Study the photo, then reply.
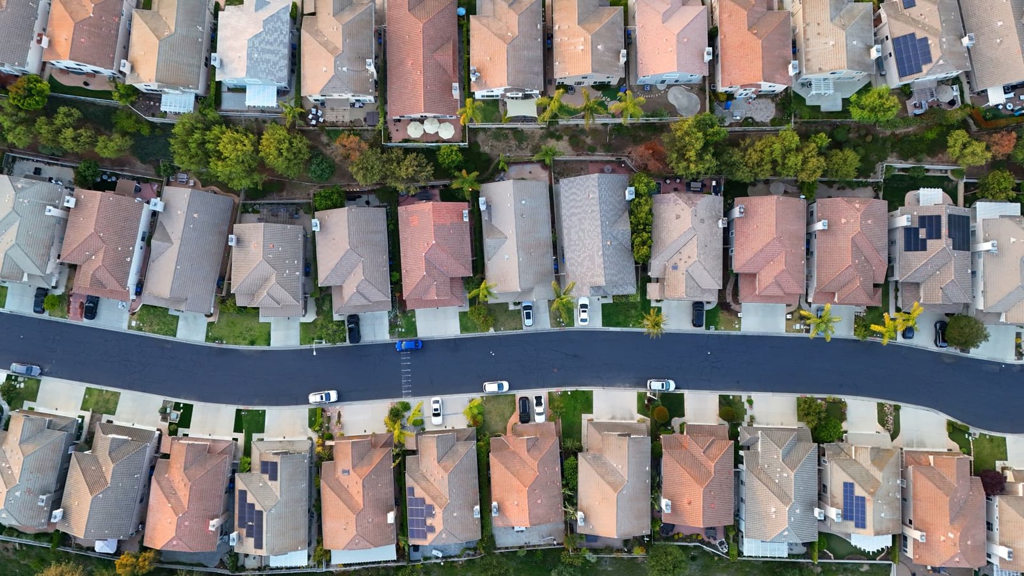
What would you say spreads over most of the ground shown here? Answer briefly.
buildings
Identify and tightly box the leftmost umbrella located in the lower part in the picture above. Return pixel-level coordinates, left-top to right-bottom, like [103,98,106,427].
[98,541,114,553]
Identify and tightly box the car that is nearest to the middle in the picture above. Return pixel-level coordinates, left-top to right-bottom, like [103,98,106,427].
[521,300,534,327]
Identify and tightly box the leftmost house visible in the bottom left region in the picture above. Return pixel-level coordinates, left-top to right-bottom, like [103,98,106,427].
[0,399,82,527]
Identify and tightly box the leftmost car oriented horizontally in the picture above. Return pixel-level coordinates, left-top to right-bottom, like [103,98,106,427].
[11,362,44,378]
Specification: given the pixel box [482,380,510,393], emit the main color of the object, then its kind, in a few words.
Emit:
white vehicle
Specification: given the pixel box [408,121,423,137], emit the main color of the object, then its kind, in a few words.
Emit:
white umbrella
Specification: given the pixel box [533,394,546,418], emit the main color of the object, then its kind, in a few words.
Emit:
white vehicle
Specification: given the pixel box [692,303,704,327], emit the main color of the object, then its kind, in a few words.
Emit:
black vehicle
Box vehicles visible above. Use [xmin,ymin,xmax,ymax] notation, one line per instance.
[517,396,531,419]
[395,339,423,352]
[85,303,99,320]
[521,300,534,327]
[577,297,590,326]
[932,319,948,348]
[11,362,44,378]
[900,314,915,342]
[482,380,510,393]
[31,285,52,316]
[533,394,546,418]
[308,389,340,404]
[429,396,444,425]
[346,314,361,344]
[645,377,676,393]
[692,303,704,327]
